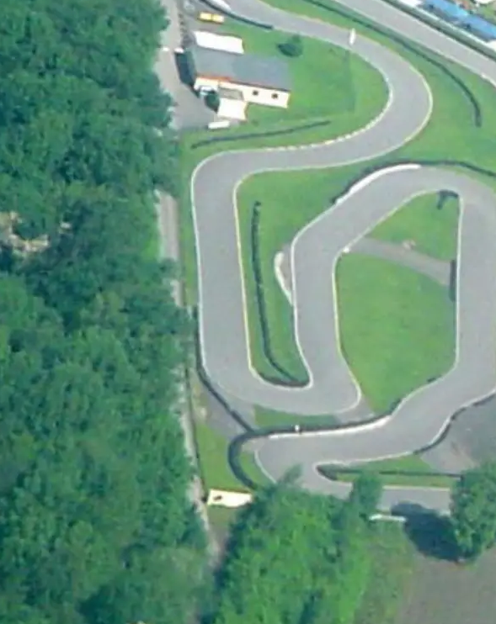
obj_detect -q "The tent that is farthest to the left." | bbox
[196,32,245,58]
